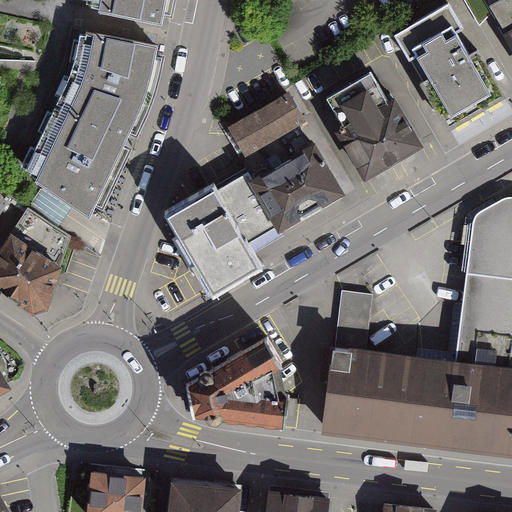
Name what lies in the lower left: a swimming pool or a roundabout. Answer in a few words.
roundabout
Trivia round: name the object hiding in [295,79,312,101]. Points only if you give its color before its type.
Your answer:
white vehicle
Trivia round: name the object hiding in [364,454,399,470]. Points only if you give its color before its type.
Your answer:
white vehicle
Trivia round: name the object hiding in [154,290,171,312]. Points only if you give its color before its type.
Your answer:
white car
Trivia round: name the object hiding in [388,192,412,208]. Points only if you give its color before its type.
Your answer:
white car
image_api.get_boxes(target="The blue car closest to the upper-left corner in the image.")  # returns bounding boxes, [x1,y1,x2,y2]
[160,105,172,129]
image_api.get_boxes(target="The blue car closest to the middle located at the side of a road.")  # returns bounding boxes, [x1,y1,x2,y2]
[288,248,312,266]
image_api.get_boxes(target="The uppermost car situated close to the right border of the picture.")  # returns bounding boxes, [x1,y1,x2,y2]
[487,58,504,81]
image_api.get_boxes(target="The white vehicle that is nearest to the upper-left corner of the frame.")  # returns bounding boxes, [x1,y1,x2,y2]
[176,47,189,74]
